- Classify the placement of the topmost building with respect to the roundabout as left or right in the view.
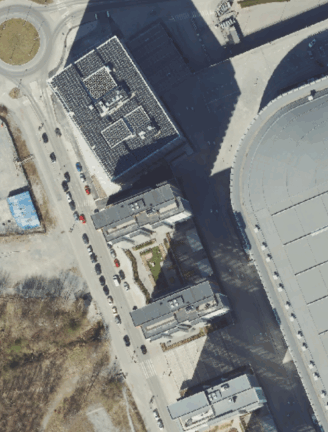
to the right of it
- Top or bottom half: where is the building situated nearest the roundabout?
top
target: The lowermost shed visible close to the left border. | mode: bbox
[8,192,41,229]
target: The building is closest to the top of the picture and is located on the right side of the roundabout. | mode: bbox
[127,21,197,109]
